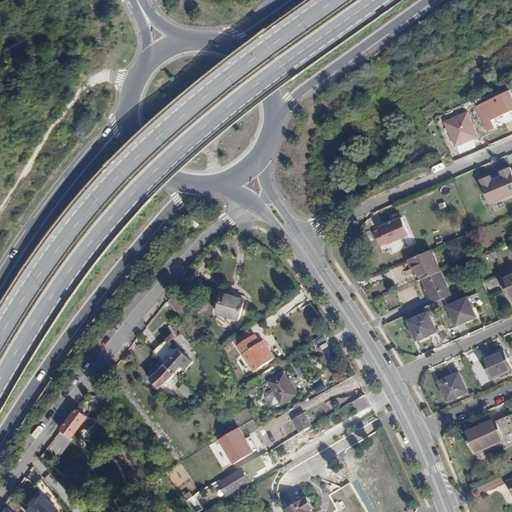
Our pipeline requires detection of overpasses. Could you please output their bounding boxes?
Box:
[0,0,414,412]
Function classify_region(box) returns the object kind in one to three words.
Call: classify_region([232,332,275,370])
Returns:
house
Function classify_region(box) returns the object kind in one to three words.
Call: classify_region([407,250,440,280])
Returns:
house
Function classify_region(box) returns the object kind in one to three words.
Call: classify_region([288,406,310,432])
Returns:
building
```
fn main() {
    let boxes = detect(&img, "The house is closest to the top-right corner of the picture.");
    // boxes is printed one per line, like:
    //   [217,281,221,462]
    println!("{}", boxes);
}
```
[473,84,512,132]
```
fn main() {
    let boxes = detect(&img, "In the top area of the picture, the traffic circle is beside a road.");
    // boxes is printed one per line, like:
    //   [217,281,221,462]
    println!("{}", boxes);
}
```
[112,24,292,228]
